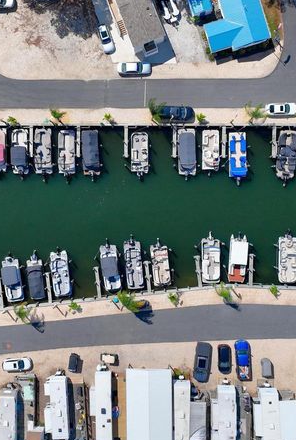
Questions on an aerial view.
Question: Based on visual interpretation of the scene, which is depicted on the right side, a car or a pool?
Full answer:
What appears on the right side is a car.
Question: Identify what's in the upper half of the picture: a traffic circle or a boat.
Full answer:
You can see a boat in the upper half of the picture.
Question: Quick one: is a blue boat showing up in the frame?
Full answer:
Yes, a blue boat can be made out from above.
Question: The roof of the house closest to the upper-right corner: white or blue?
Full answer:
The color of the roof of the house closest to the upper-right corner is blue.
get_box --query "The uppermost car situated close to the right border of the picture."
[264,102,296,117]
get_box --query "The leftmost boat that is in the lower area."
[0,249,26,306]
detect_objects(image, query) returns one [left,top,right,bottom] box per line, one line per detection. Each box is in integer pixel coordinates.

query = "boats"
[0,249,26,306]
[227,231,250,286]
[128,126,149,184]
[99,234,123,296]
[150,236,172,291]
[277,226,296,285]
[227,127,247,188]
[26,249,47,302]
[7,127,30,184]
[56,127,76,184]
[274,128,296,191]
[177,126,196,186]
[32,127,54,184]
[49,241,73,301]
[123,231,146,292]
[200,127,220,180]
[200,228,220,284]
[80,126,101,186]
